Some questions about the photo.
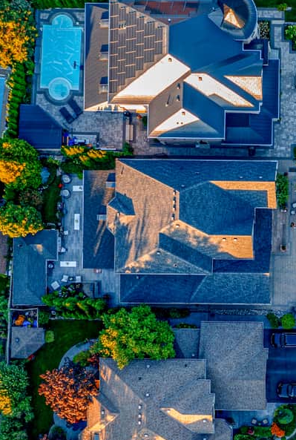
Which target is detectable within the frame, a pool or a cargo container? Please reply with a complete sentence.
I can see a pool in this picture.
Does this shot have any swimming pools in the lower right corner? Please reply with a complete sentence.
No, I can find no swimming pool in the lower right corner.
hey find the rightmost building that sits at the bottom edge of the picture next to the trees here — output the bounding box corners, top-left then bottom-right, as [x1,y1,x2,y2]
[78,320,267,440]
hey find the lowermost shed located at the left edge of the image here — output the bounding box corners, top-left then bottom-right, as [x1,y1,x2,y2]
[9,326,48,360]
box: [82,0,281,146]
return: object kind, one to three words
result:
house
